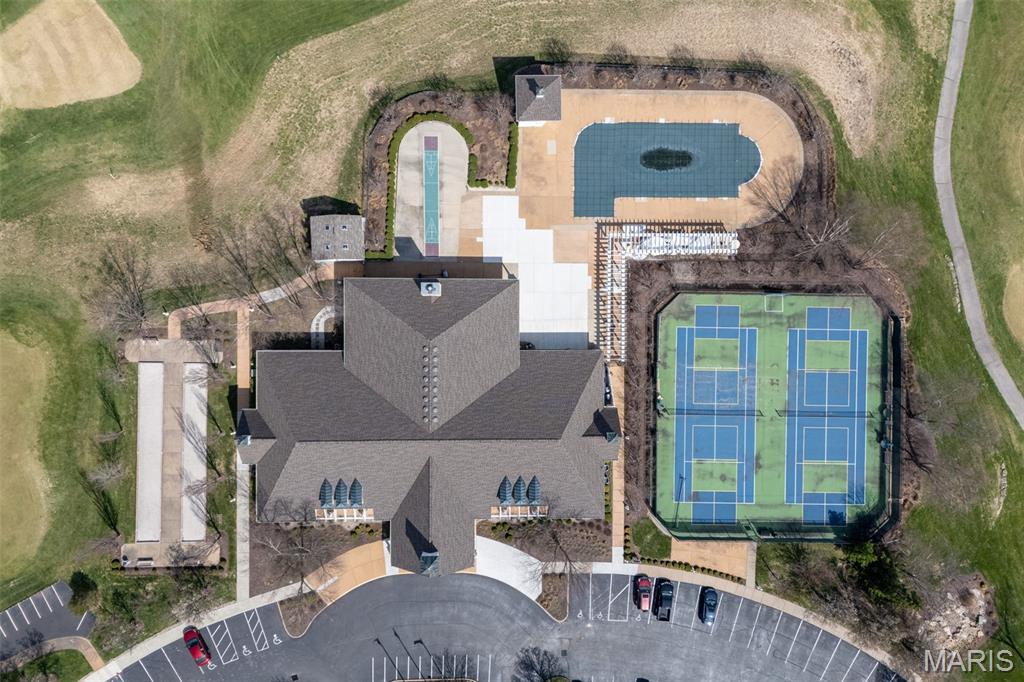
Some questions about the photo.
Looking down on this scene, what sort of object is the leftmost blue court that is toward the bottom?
tennis court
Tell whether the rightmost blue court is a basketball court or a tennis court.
tennis court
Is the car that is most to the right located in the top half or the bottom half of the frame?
bottom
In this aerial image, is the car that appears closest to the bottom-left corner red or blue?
red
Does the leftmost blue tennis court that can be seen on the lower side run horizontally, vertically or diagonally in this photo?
vertically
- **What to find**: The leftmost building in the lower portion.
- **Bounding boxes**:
[236,278,620,578]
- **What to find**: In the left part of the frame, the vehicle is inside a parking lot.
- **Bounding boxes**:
[185,629,210,668]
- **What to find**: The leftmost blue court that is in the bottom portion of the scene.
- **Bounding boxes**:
[668,306,765,525]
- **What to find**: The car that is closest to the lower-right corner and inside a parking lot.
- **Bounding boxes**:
[699,587,719,625]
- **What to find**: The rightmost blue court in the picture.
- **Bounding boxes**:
[780,308,878,526]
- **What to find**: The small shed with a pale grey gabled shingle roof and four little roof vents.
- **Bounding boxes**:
[311,214,366,262]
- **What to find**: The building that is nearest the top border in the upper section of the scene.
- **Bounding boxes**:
[515,74,562,127]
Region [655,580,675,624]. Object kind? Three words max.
vehicle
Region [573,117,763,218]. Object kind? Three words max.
swimming pool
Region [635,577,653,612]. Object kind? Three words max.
car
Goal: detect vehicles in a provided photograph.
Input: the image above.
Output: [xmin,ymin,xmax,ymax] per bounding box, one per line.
[185,629,210,668]
[655,580,675,624]
[699,587,719,625]
[635,577,653,612]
